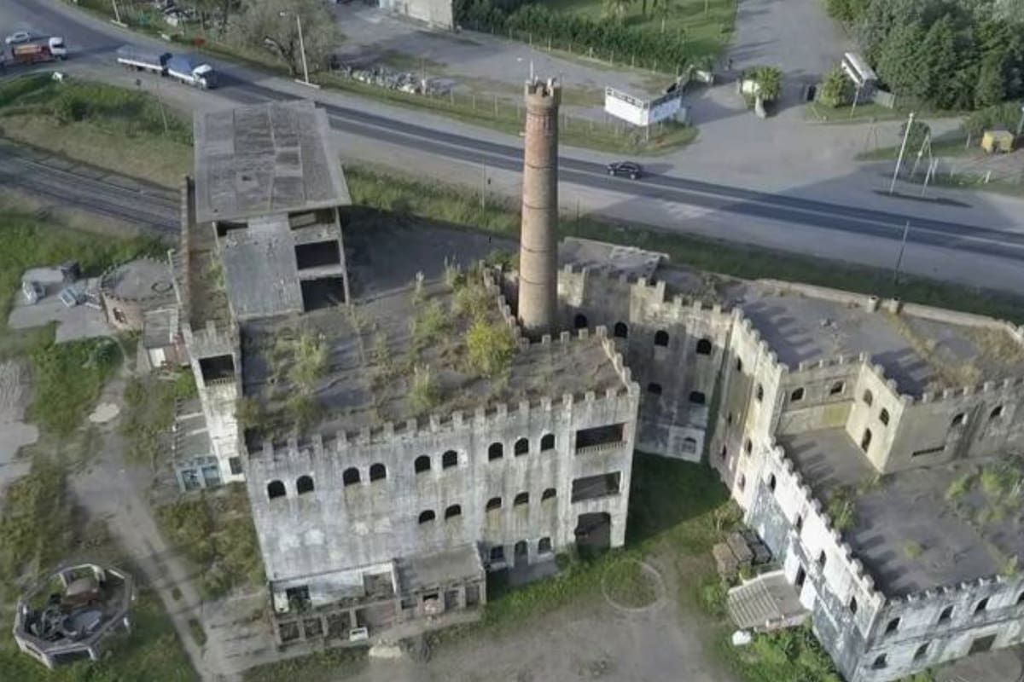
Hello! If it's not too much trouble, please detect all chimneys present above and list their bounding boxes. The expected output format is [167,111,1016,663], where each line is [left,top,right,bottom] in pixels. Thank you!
[511,55,561,344]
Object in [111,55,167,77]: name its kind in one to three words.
trailer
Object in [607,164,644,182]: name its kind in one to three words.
car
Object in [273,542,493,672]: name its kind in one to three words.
building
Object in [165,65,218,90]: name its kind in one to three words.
truck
